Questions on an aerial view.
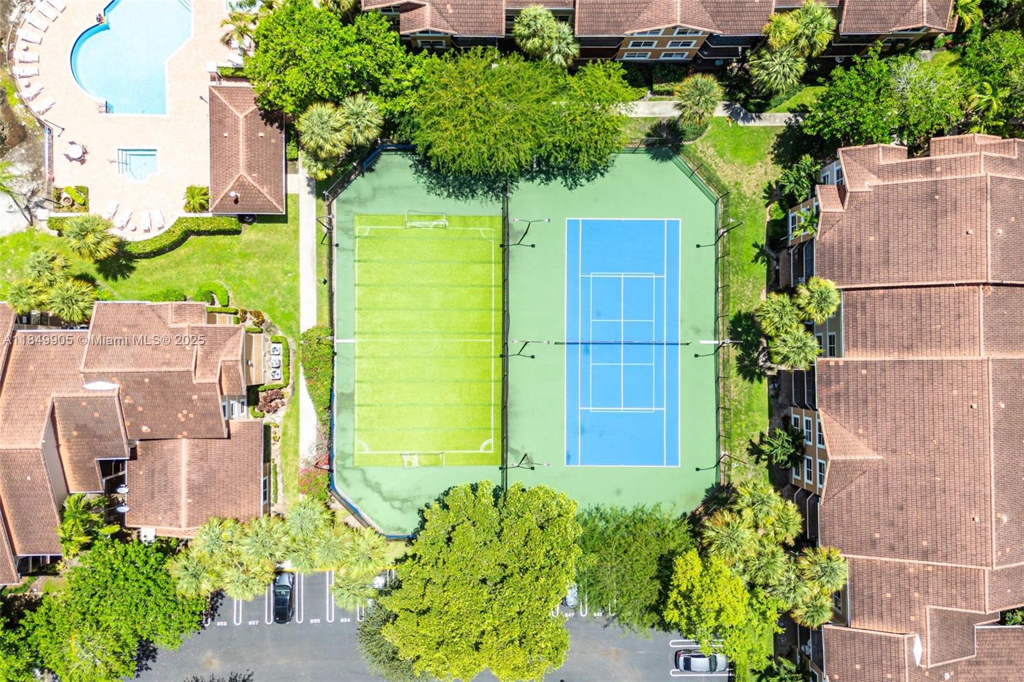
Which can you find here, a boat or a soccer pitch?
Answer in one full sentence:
It is a soccer pitch that can be seen here.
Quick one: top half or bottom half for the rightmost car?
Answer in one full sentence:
You can find the rightmost car in the bottom half.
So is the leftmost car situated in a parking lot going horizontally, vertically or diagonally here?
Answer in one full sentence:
From this overhead view, the leftmost car situated in a parking lot appears to run vertically.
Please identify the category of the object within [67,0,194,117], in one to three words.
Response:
swimming pool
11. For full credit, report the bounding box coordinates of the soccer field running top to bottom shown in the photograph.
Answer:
[335,151,505,536]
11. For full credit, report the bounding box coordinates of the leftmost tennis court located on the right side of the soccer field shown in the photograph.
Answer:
[509,149,716,535]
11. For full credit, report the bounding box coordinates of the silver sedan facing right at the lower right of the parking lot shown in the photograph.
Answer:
[675,649,726,675]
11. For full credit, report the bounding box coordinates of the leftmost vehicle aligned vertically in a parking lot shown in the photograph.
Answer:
[269,574,294,626]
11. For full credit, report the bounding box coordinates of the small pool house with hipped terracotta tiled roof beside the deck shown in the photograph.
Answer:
[208,85,286,214]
